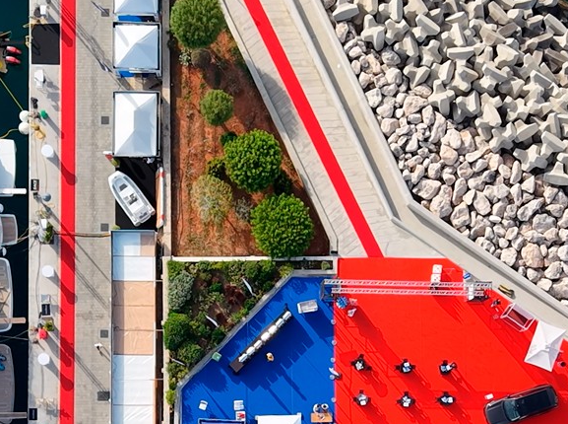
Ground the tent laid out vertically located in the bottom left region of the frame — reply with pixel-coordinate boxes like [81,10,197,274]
[112,230,165,424]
